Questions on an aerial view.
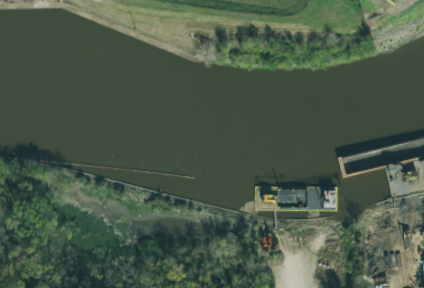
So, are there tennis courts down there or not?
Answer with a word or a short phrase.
No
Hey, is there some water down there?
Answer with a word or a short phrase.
Yes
